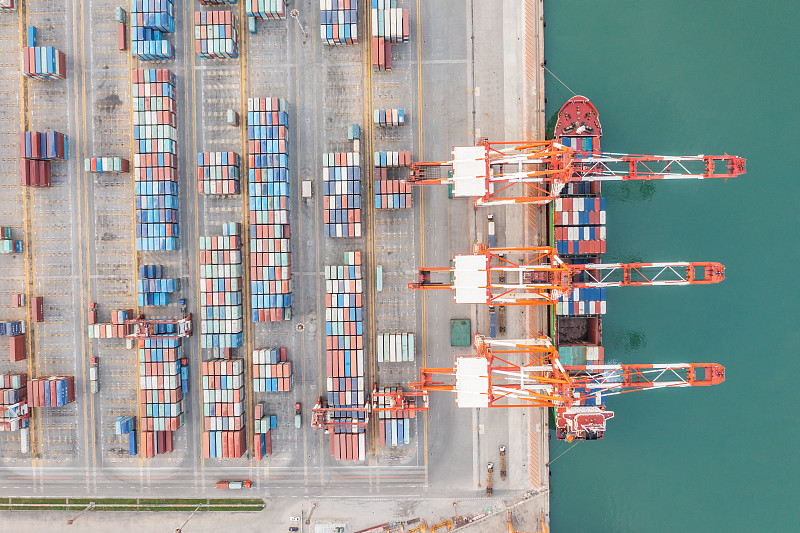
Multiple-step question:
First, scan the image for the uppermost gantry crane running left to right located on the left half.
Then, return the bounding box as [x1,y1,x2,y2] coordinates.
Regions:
[122,309,195,341]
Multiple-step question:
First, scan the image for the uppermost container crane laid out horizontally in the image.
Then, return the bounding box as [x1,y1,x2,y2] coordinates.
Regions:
[396,131,747,216]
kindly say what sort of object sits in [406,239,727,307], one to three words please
container crane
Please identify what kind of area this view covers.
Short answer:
port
